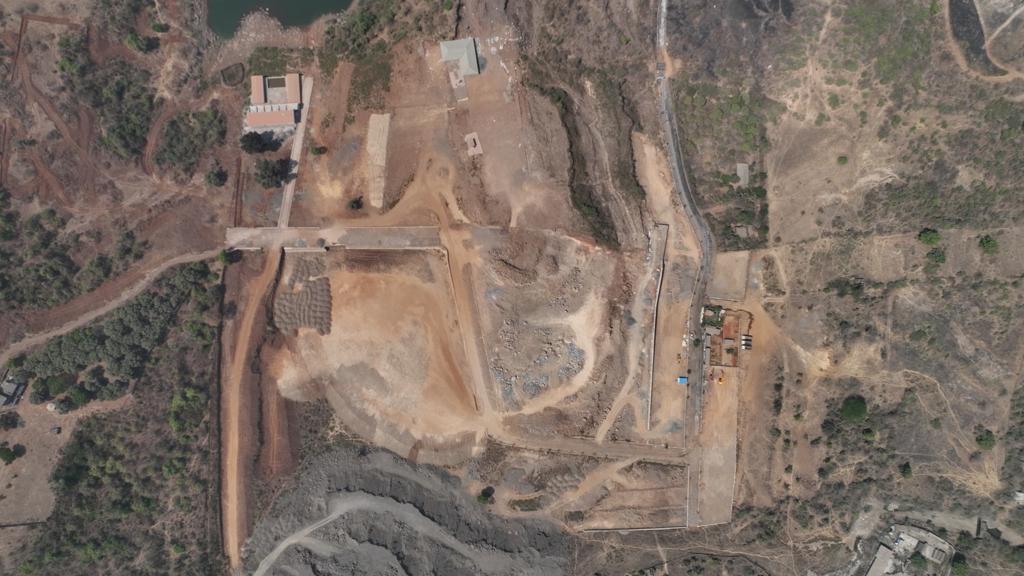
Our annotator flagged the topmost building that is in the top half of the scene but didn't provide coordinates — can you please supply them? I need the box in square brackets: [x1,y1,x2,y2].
[440,38,479,76]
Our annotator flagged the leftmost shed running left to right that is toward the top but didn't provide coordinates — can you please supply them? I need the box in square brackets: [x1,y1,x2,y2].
[246,109,296,128]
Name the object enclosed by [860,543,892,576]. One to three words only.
building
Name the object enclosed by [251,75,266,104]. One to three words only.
shed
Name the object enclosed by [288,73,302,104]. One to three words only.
shed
